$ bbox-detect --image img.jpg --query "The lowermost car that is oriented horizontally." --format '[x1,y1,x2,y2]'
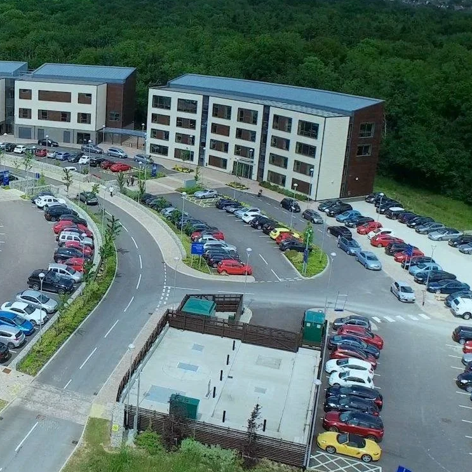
[312,433,385,467]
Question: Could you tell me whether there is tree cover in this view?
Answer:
Yes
